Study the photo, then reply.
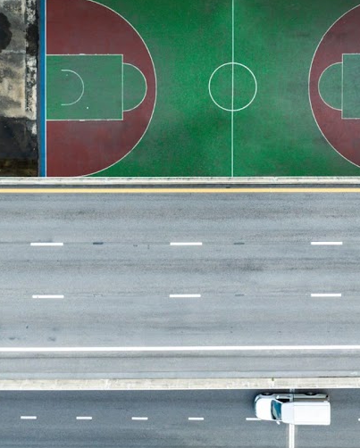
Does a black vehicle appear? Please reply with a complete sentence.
No, no black vehicle is visible in the view.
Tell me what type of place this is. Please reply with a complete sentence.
The picture captures a sports ground.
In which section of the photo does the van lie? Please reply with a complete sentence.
The van is in the bottom right part of the image.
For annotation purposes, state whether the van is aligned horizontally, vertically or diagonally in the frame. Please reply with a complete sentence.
From this overhead view, the van appears to run horizontally.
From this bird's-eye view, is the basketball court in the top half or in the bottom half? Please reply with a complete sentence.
The top half of the photo is where the basketball court is.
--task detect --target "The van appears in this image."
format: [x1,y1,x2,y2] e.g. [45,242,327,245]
[256,392,330,428]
